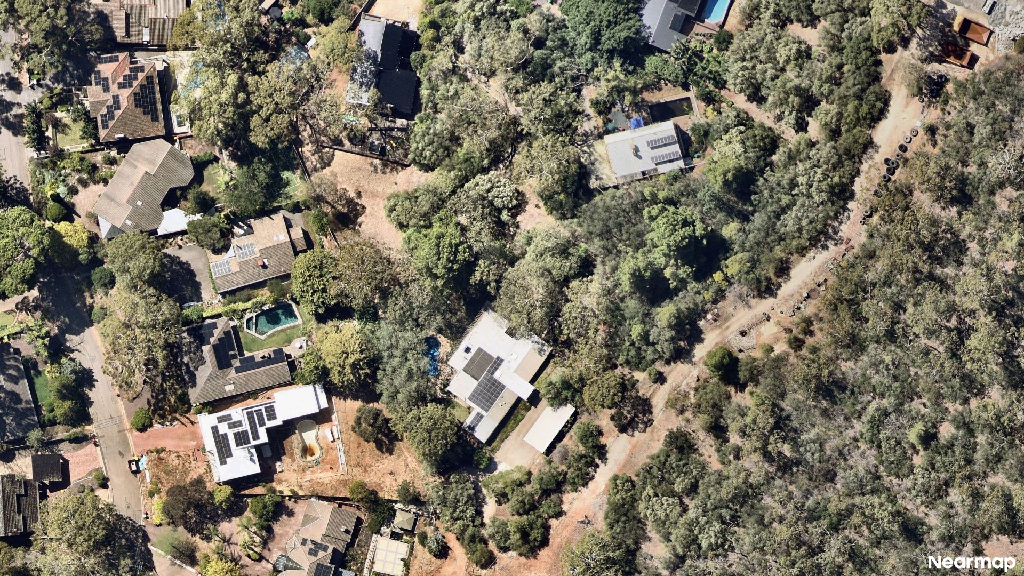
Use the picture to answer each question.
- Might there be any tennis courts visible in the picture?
Yes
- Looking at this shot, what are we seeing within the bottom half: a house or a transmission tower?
house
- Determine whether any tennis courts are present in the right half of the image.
No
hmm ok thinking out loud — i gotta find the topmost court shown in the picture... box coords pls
[252,140,302,205]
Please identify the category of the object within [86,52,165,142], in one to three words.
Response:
house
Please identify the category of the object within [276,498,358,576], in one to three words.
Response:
house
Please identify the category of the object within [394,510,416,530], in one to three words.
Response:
gazebo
